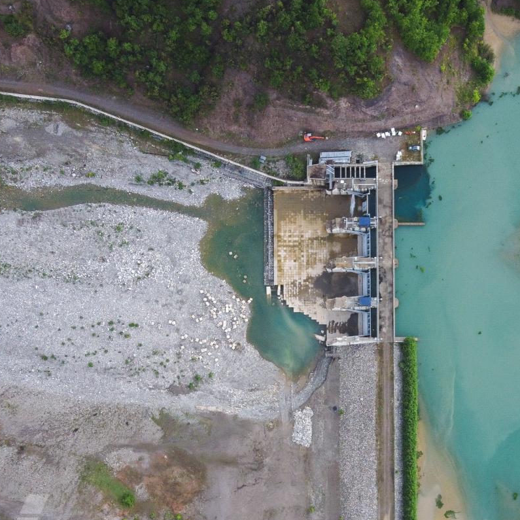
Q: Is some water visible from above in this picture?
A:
Yes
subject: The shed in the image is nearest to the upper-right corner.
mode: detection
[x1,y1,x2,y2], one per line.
[319,151,352,166]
